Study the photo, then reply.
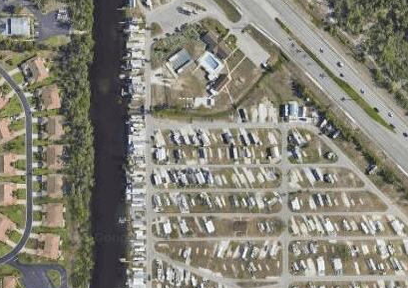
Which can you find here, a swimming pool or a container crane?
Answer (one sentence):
This aerial view contains a swimming pool.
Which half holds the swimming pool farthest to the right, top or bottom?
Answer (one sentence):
You can find the swimming pool farthest to the right in the top half.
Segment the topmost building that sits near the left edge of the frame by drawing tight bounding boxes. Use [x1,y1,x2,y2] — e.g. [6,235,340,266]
[0,18,30,37]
